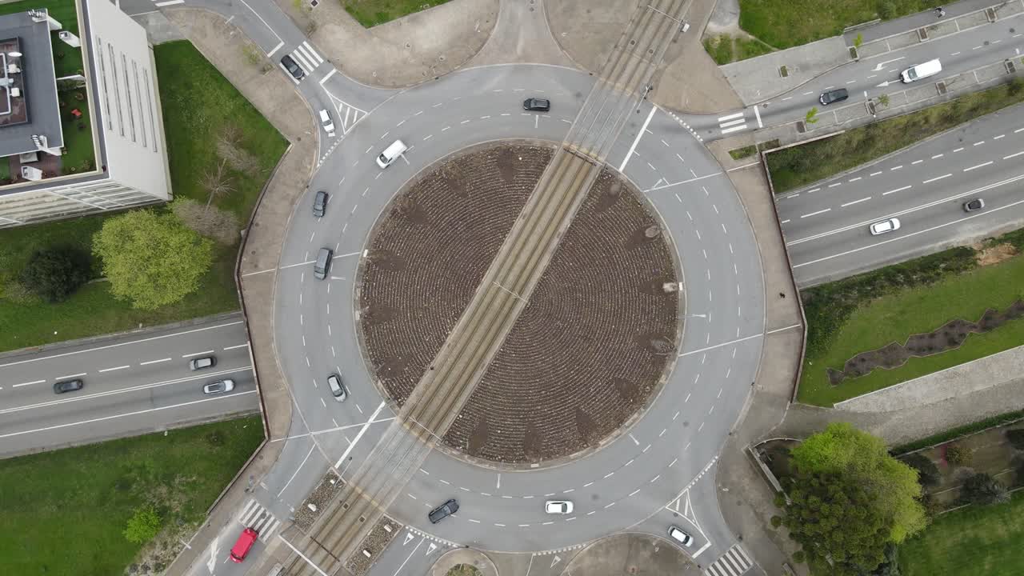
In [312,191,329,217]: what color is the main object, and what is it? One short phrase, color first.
gray car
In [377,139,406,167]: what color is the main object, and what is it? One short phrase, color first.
white vehicle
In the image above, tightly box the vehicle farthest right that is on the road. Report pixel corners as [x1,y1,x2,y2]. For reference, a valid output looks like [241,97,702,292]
[961,197,984,212]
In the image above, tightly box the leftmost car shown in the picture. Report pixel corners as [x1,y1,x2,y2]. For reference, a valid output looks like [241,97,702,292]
[54,378,85,394]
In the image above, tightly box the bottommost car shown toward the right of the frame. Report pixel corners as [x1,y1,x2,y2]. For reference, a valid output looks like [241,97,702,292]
[667,524,693,546]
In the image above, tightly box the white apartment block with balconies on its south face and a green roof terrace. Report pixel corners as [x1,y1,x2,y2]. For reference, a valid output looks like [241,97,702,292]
[0,0,171,231]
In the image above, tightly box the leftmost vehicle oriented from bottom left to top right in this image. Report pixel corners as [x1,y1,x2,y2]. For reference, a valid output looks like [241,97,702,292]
[231,528,258,560]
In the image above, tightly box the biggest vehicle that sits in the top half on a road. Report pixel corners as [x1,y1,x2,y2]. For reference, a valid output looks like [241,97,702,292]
[900,57,946,83]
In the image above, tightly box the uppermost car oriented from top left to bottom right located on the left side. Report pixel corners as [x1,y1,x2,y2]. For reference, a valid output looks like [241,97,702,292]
[280,54,305,80]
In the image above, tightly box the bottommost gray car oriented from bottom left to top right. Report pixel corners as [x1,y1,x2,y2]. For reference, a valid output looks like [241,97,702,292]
[428,499,458,524]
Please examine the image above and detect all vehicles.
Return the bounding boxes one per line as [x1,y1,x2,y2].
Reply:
[54,378,85,394]
[818,88,849,105]
[231,528,258,560]
[667,524,693,546]
[319,109,336,134]
[326,374,347,401]
[312,191,329,217]
[961,197,984,212]
[428,499,458,524]
[190,356,218,371]
[868,218,899,235]
[377,139,406,167]
[523,97,550,112]
[545,500,573,514]
[280,54,305,80]
[900,57,946,83]
[204,379,235,394]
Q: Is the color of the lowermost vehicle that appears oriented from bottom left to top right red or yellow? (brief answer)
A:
red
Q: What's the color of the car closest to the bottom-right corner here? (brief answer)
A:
white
